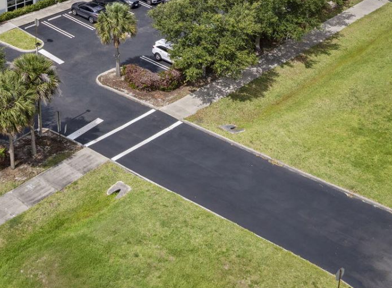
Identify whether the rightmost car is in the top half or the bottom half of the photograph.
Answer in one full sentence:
You can find the rightmost car in the top half.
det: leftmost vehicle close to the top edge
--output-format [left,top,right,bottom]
[74,1,110,20]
